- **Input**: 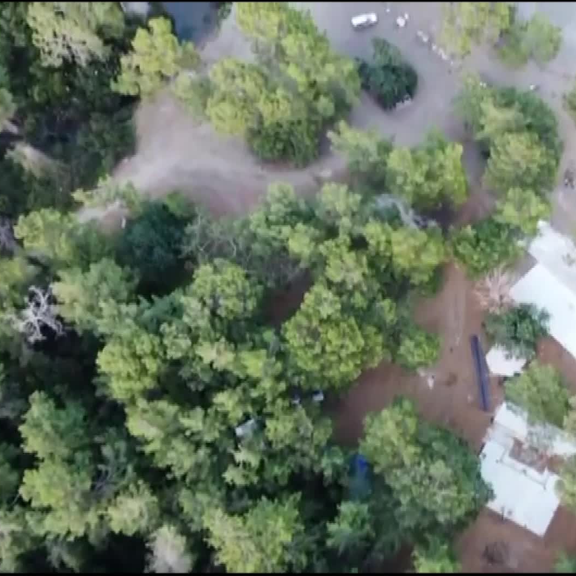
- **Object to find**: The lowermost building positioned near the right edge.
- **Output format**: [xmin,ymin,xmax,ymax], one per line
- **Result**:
[468,404,576,536]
